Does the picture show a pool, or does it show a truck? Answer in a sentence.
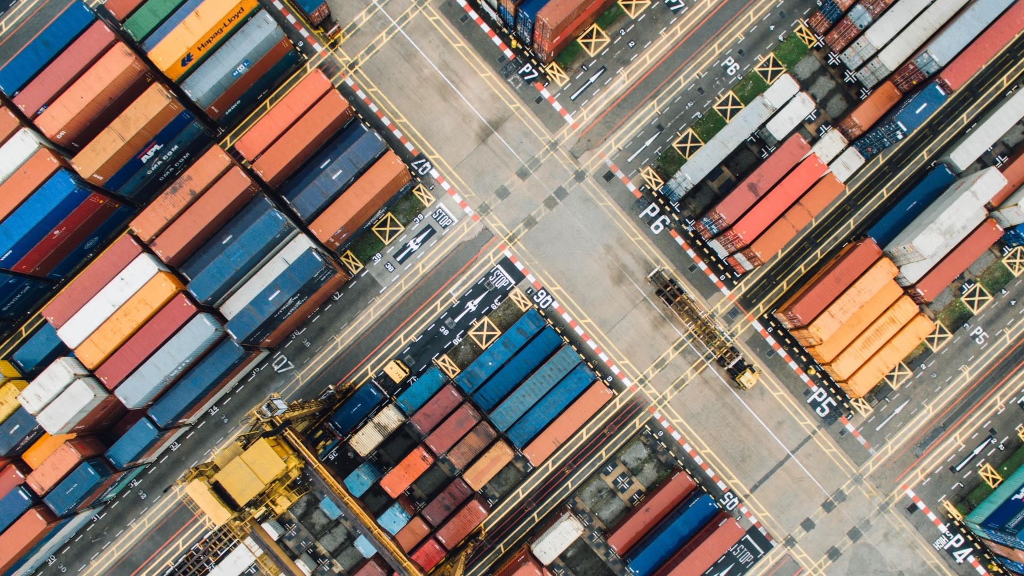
This aerial view contains a truck.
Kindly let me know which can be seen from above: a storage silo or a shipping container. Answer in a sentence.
This aerial view contains a shipping container.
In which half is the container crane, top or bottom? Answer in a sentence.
Seen from above, the container crane lies in the bottom half of the view.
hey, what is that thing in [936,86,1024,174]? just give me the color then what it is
white shipping container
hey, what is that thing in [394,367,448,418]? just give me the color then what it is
blue shipping container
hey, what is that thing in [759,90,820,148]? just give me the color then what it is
white shipping container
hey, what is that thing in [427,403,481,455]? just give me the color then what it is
red shipping container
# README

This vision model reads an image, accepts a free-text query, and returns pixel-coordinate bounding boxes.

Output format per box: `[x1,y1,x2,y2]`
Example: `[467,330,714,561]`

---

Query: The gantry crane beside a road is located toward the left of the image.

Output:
[171,374,494,576]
